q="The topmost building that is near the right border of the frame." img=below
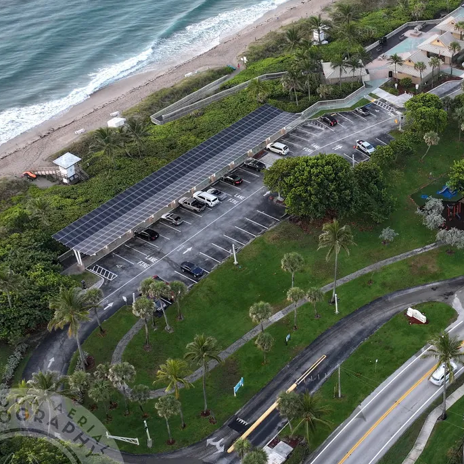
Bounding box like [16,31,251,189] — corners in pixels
[434,15,464,40]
